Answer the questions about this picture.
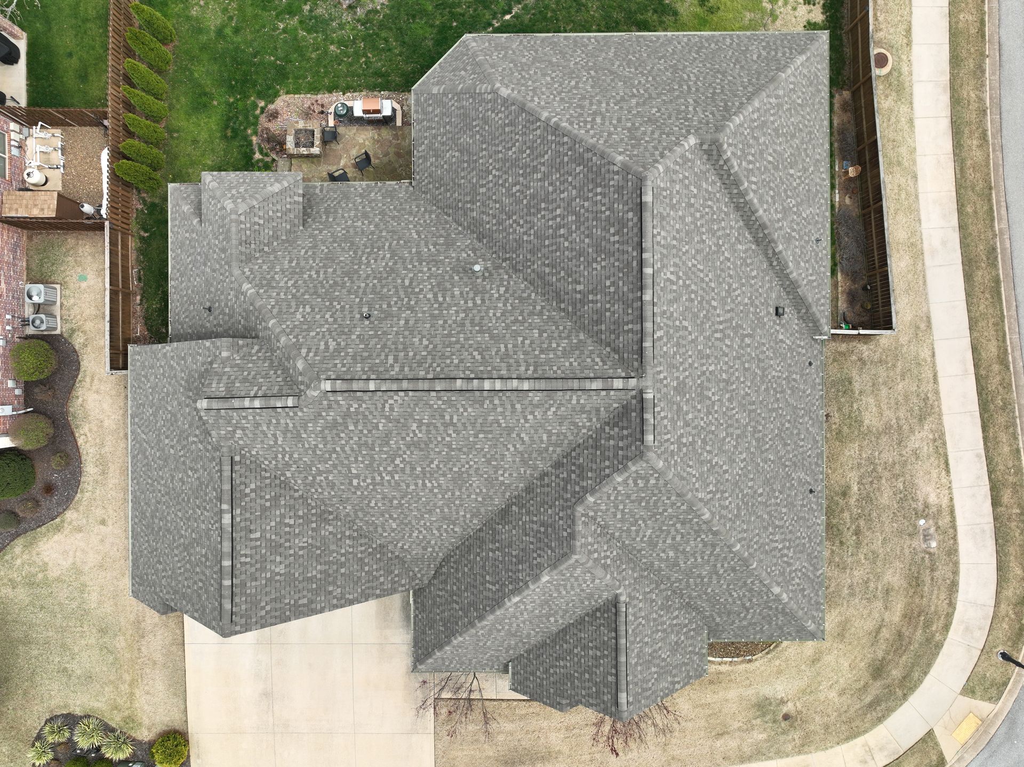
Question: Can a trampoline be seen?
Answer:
No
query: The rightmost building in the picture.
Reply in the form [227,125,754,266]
[128,31,830,720]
